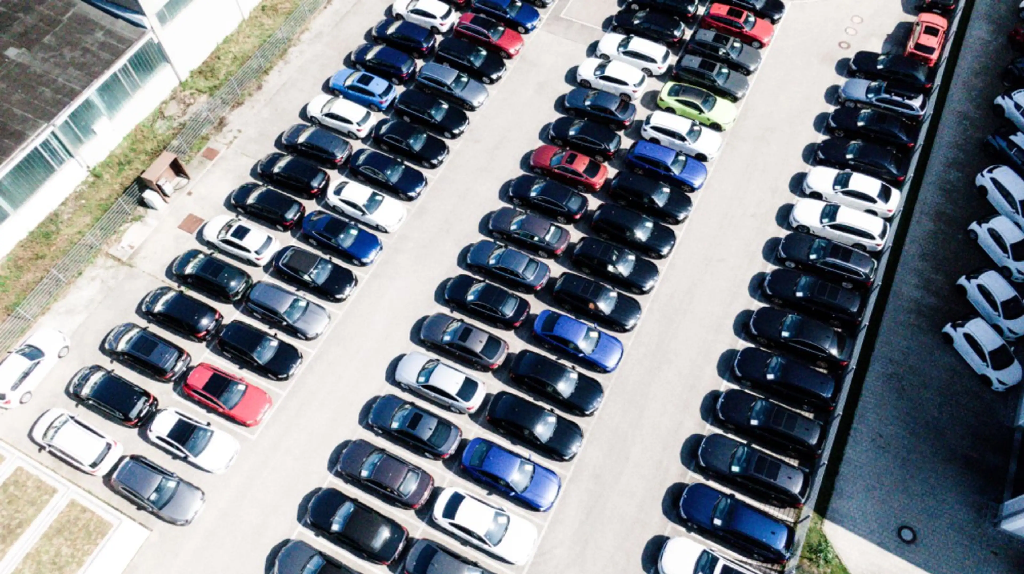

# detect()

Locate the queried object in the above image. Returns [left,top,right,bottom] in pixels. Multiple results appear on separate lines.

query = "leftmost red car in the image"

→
[175,358,274,429]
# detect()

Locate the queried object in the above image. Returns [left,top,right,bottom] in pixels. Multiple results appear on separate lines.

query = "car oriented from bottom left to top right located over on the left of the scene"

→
[0,326,74,409]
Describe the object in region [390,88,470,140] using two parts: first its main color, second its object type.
black car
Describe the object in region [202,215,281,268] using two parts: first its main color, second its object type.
white car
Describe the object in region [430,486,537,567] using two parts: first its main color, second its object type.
white car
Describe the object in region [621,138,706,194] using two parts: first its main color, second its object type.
blue car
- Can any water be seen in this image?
No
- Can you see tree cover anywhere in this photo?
No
